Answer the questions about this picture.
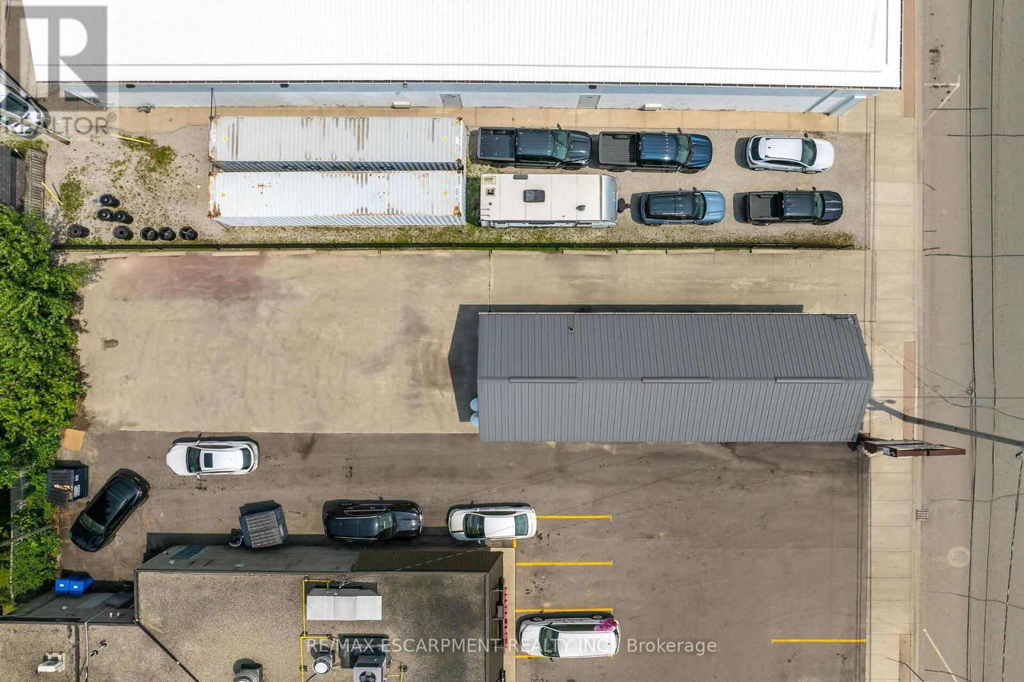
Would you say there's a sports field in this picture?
No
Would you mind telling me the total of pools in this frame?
0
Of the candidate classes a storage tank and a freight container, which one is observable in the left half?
freight container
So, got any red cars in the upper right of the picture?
No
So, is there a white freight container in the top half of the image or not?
Yes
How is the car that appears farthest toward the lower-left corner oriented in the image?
diagonally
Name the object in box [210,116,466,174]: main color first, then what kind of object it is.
white shipping container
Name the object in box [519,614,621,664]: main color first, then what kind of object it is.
white car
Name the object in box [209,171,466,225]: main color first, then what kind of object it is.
white shipping container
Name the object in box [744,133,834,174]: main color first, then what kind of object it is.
white car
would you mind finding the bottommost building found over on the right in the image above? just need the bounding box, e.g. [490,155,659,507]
[477,312,873,442]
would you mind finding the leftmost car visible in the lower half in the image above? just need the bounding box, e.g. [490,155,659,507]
[71,467,151,553]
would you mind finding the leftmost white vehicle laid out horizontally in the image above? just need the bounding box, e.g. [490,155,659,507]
[166,440,262,481]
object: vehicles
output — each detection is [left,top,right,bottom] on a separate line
[448,507,537,549]
[598,126,713,173]
[519,614,621,664]
[640,186,725,226]
[744,133,834,174]
[71,467,151,553]
[477,121,591,168]
[324,505,424,550]
[747,184,845,226]
[166,440,262,481]
[0,64,51,137]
